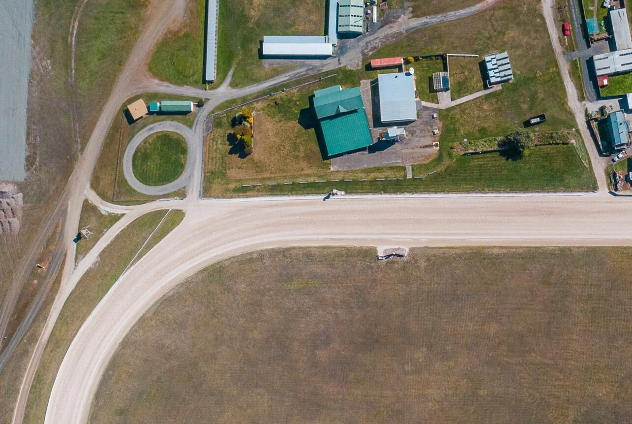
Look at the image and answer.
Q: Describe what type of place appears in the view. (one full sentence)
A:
What you see here is a sports ground.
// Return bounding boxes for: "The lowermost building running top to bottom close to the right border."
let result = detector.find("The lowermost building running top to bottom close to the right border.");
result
[610,111,629,146]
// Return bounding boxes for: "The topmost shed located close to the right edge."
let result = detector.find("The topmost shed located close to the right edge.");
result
[610,8,632,50]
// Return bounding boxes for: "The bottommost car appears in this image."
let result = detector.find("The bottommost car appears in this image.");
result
[611,150,627,163]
